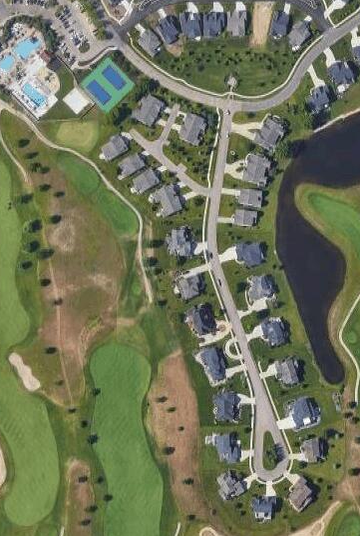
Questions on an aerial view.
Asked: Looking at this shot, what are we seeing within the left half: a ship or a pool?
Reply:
pool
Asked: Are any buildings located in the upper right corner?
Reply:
Yes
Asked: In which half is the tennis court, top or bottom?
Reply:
top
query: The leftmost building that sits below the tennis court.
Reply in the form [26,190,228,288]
[102,135,128,160]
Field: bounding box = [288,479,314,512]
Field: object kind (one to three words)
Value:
house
